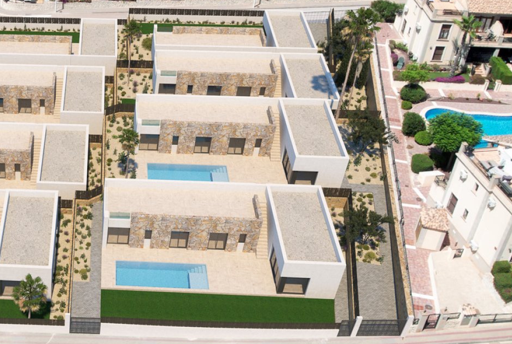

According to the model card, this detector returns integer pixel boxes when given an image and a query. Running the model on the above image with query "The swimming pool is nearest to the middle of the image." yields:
[149,160,234,184]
